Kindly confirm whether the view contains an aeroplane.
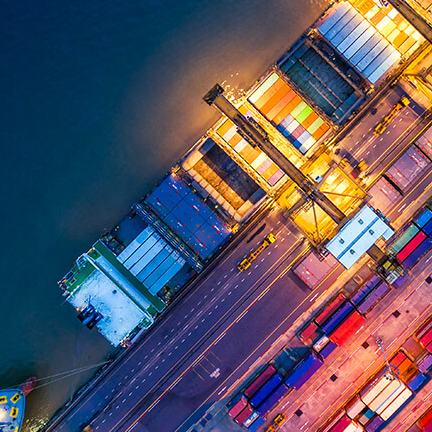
No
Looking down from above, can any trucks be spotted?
Yes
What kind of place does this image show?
port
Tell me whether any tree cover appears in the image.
No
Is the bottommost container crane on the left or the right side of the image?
right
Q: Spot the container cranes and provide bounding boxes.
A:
[373,0,432,127]
[200,82,413,290]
